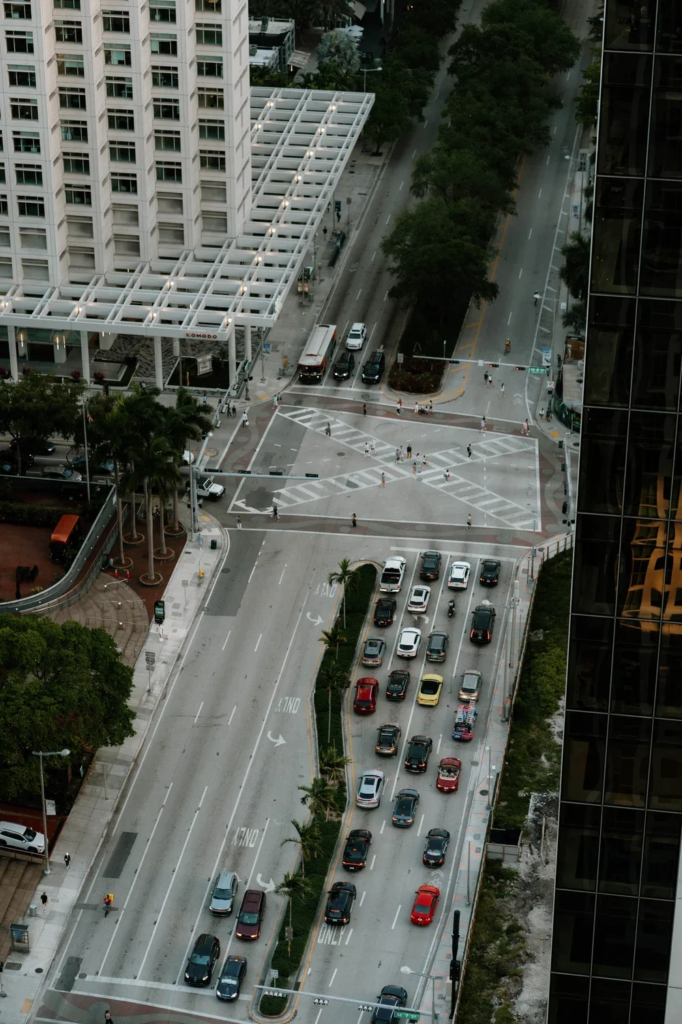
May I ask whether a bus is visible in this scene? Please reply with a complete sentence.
Yes, there is a bus in the image.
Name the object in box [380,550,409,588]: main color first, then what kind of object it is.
white truck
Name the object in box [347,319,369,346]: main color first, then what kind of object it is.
white car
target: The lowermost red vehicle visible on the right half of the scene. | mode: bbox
[410,879,441,922]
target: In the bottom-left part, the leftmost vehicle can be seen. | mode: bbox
[0,819,47,852]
